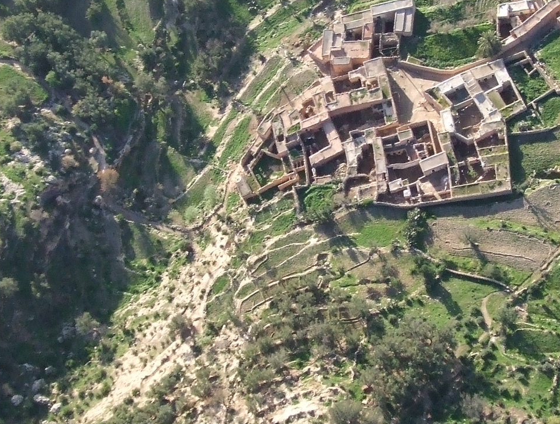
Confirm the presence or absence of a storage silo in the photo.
No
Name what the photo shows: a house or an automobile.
house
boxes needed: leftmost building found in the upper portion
[272,112,313,187]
